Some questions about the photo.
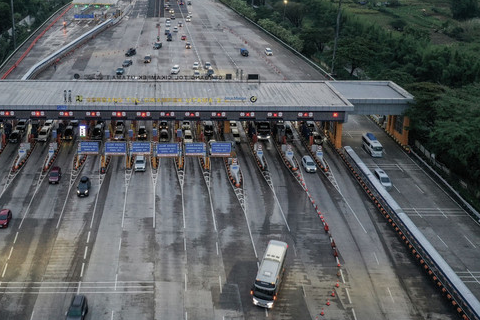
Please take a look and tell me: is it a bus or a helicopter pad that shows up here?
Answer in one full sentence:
Visible in the photo is a bus.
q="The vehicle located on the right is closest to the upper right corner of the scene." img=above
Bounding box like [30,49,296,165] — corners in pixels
[363,134,386,156]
